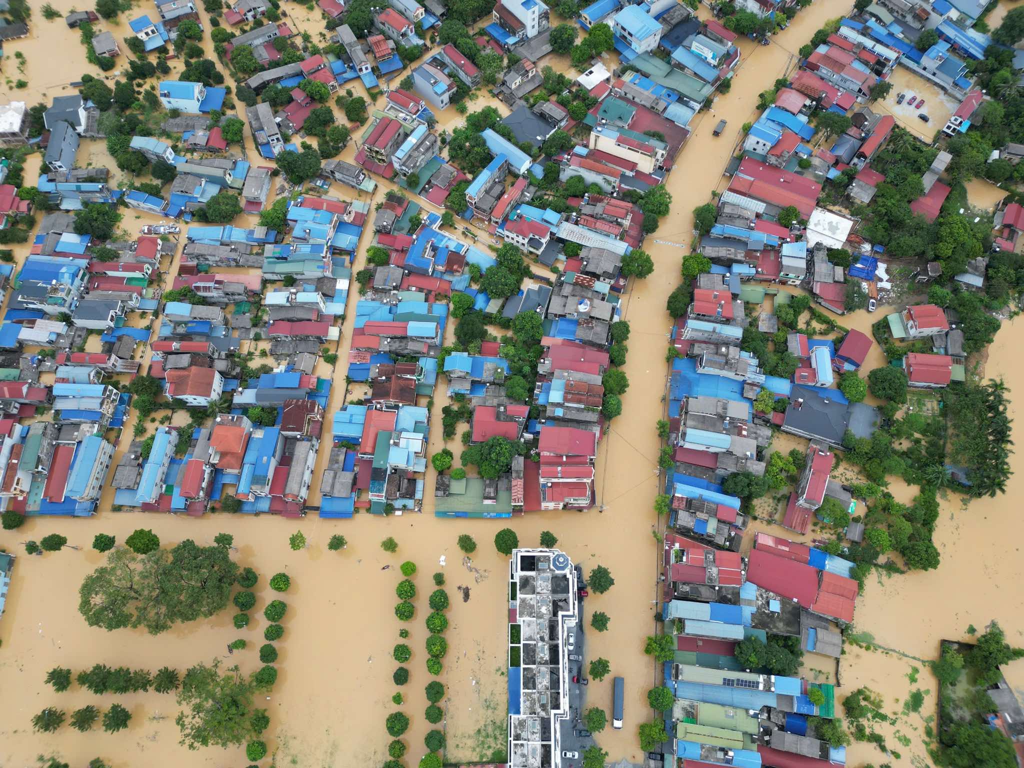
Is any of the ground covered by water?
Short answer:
Yes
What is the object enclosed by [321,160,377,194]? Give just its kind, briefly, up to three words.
house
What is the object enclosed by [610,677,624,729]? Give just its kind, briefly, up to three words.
vehicle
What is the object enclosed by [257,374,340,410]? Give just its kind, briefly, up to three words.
house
